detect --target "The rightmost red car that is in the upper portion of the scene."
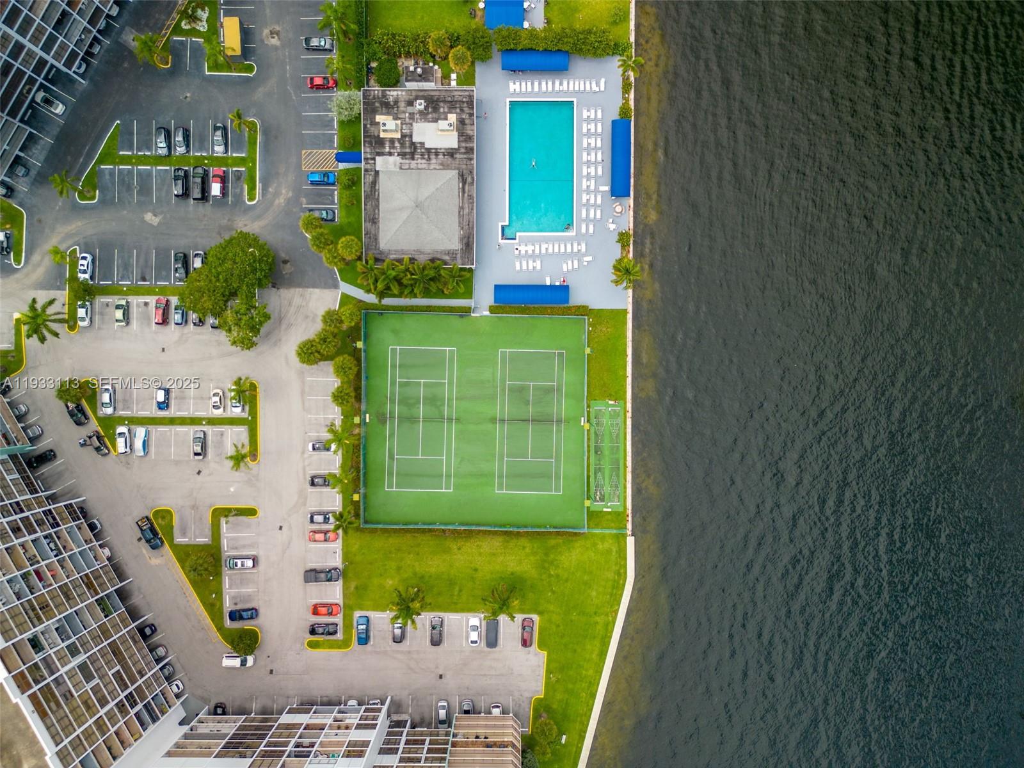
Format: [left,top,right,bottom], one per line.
[307,75,337,90]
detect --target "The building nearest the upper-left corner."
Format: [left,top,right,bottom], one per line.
[0,0,128,184]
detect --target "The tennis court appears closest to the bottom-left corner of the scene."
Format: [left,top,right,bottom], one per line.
[381,346,460,492]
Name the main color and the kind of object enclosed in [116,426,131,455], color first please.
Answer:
white car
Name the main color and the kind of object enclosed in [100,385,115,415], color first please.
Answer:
white car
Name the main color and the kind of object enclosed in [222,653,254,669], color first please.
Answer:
white vehicle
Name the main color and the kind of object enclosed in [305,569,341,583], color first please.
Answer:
gray vehicle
